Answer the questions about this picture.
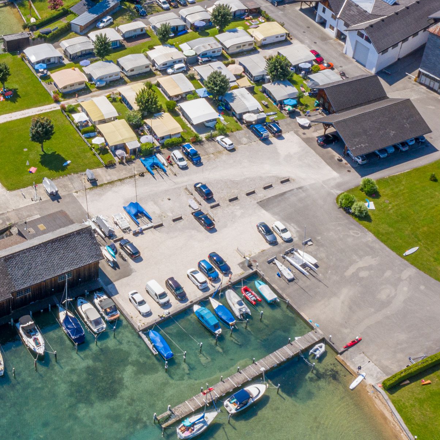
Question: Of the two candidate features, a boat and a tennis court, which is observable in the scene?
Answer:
boat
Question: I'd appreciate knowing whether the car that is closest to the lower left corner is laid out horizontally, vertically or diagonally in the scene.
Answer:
diagonally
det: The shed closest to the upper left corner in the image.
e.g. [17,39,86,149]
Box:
[3,32,30,52]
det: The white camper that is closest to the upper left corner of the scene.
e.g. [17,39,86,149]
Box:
[24,44,61,64]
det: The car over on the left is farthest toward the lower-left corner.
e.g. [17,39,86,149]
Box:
[126,291,152,316]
